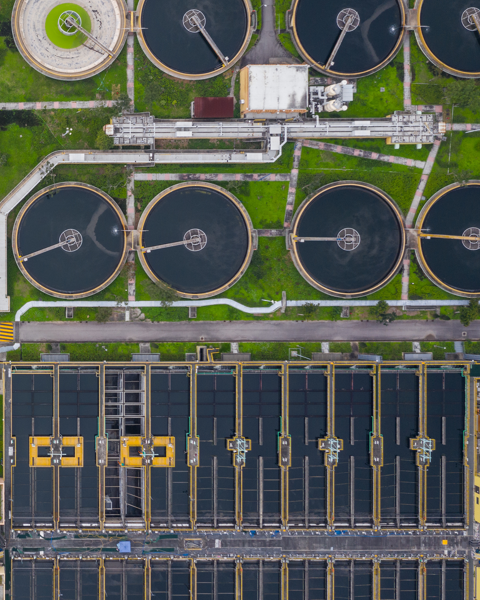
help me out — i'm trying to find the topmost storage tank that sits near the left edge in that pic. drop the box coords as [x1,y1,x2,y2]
[10,0,129,82]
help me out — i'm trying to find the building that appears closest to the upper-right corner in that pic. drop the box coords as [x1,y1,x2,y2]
[241,63,308,117]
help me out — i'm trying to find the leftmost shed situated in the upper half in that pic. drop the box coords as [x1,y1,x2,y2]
[190,97,234,119]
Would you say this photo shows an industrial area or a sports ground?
industrial area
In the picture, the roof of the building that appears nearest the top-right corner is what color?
white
